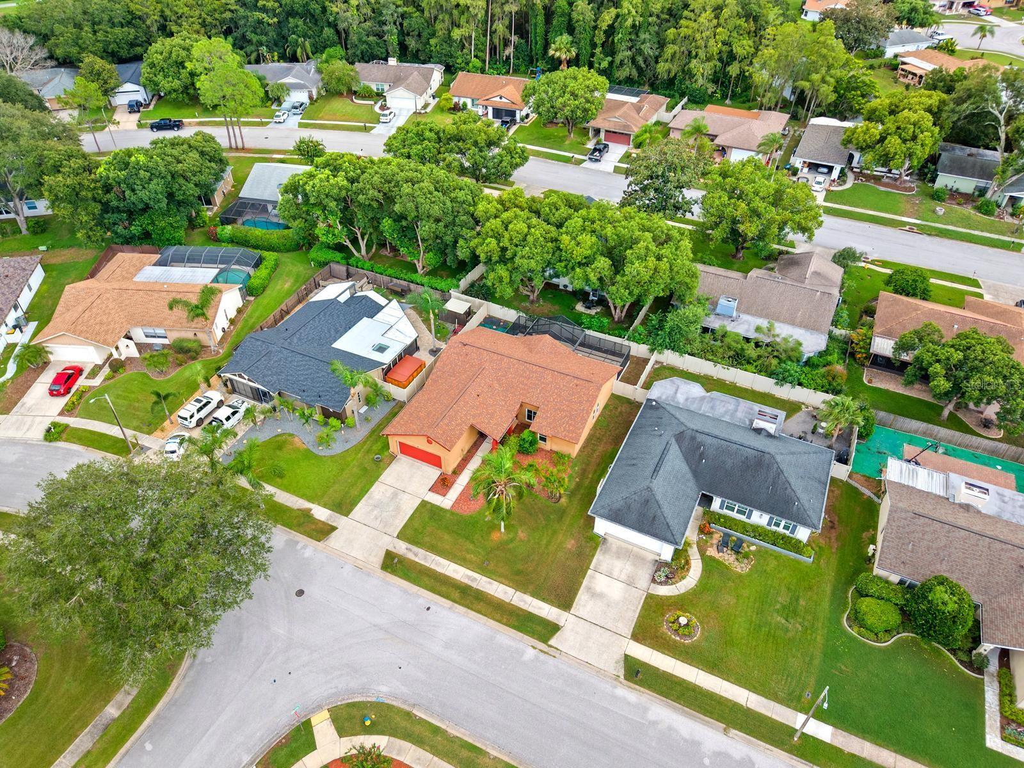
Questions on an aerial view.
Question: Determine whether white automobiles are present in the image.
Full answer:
Yes, the photo shows a white automobile.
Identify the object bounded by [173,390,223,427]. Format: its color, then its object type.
white car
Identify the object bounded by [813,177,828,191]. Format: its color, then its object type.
white car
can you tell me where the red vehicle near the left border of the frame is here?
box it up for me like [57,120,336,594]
[46,366,81,397]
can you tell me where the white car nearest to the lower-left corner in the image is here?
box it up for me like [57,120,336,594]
[154,427,193,465]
